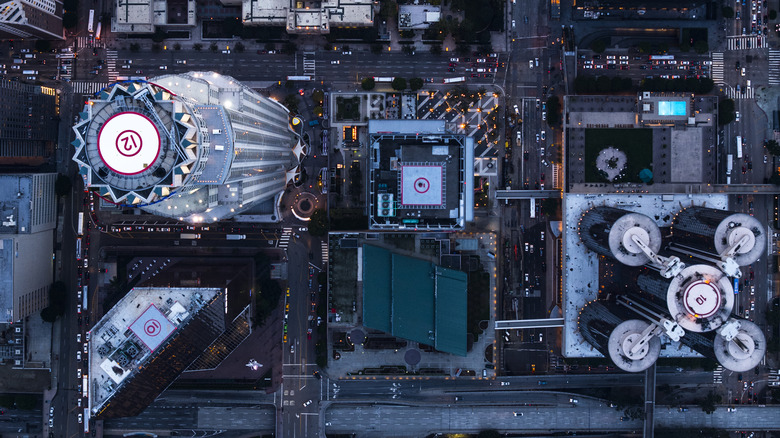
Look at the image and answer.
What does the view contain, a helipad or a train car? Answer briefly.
helipad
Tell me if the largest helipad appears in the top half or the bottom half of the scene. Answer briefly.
top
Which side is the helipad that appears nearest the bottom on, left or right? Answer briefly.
left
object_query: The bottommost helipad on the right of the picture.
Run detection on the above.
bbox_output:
[685,280,722,317]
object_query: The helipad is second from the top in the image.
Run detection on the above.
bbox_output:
[397,161,447,209]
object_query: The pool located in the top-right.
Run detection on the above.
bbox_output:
[659,101,686,116]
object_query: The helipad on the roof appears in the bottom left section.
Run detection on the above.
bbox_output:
[128,302,178,353]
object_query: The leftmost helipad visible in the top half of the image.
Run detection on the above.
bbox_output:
[98,112,161,174]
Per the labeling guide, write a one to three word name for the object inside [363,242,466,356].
building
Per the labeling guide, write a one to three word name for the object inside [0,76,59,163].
building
